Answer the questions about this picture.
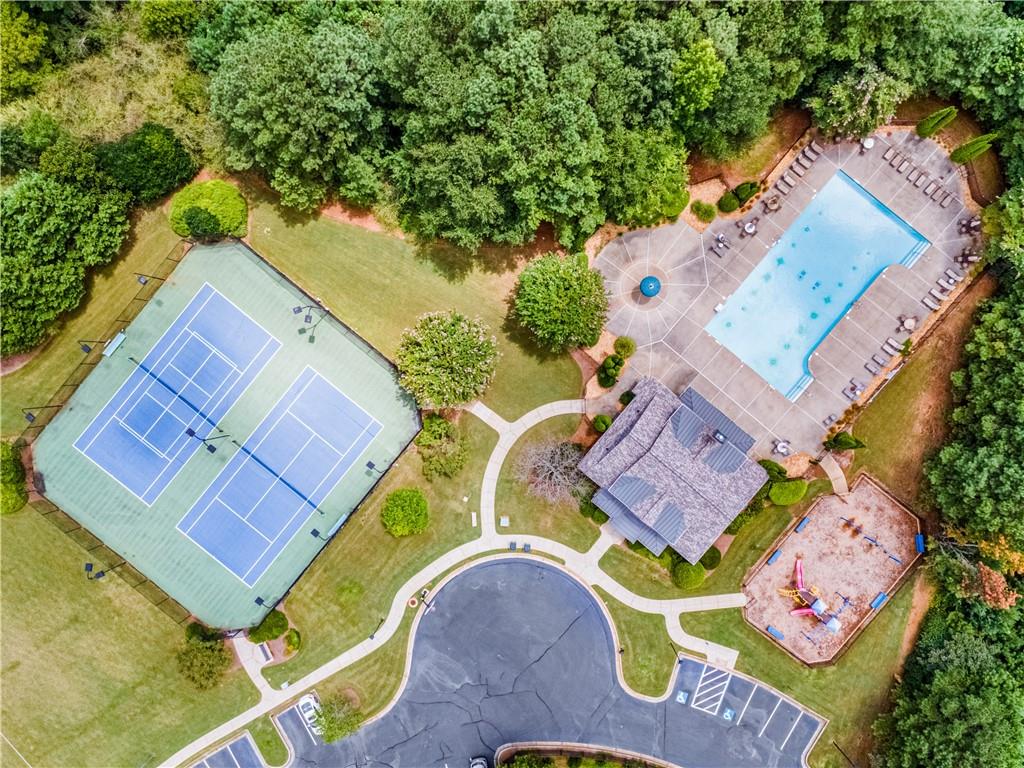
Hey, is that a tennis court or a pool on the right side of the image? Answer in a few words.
pool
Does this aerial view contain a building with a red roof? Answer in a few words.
No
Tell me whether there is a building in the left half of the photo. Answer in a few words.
No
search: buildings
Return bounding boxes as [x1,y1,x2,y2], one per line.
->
[579,379,769,564]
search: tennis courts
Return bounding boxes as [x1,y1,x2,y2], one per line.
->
[177,365,384,589]
[73,281,283,508]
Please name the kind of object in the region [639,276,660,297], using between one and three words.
fountain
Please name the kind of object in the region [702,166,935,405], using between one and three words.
swimming pool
